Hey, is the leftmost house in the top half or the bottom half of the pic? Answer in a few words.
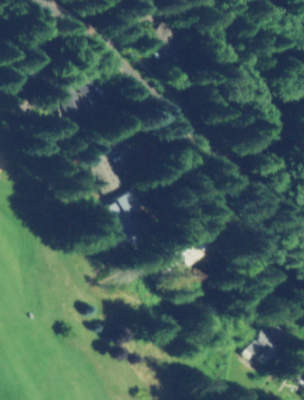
top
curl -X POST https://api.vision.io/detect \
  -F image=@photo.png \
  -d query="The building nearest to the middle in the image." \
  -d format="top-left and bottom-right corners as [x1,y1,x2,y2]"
[106,190,136,220]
